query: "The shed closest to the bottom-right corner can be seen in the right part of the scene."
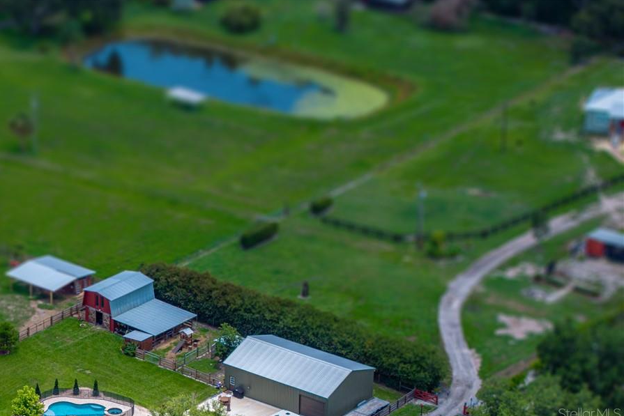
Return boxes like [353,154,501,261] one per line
[587,228,624,259]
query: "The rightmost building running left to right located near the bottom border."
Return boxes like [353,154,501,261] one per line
[223,334,376,416]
